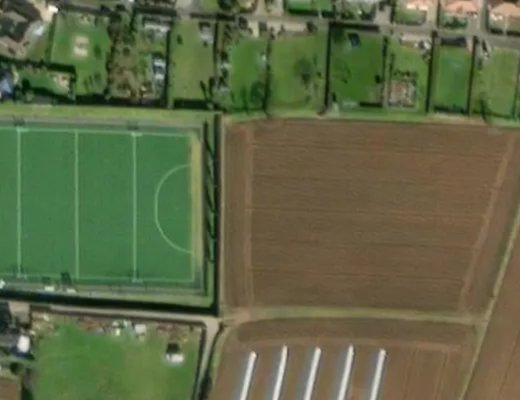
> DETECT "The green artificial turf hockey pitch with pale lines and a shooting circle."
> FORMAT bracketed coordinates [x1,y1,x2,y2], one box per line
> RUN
[0,117,204,290]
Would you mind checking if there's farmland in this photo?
Yes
